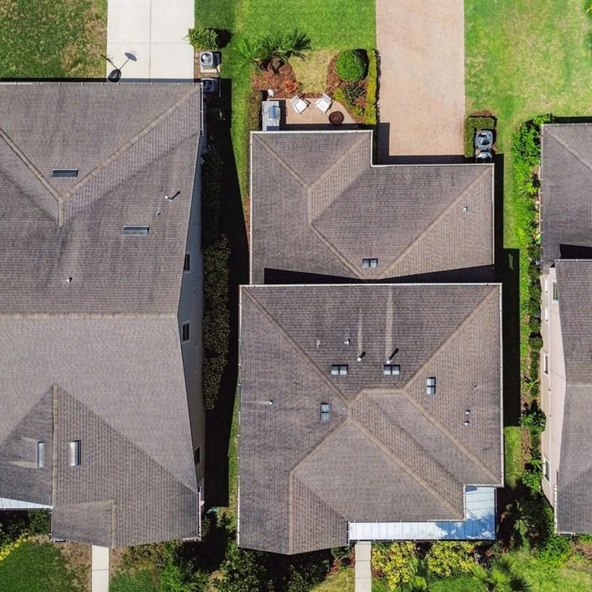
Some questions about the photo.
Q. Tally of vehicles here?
0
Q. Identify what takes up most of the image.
buildings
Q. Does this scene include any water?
No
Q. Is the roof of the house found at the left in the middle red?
No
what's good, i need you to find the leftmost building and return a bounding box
[0,81,205,548]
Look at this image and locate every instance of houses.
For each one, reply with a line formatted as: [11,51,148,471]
[0,81,205,548]
[235,129,503,554]
[539,123,592,539]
